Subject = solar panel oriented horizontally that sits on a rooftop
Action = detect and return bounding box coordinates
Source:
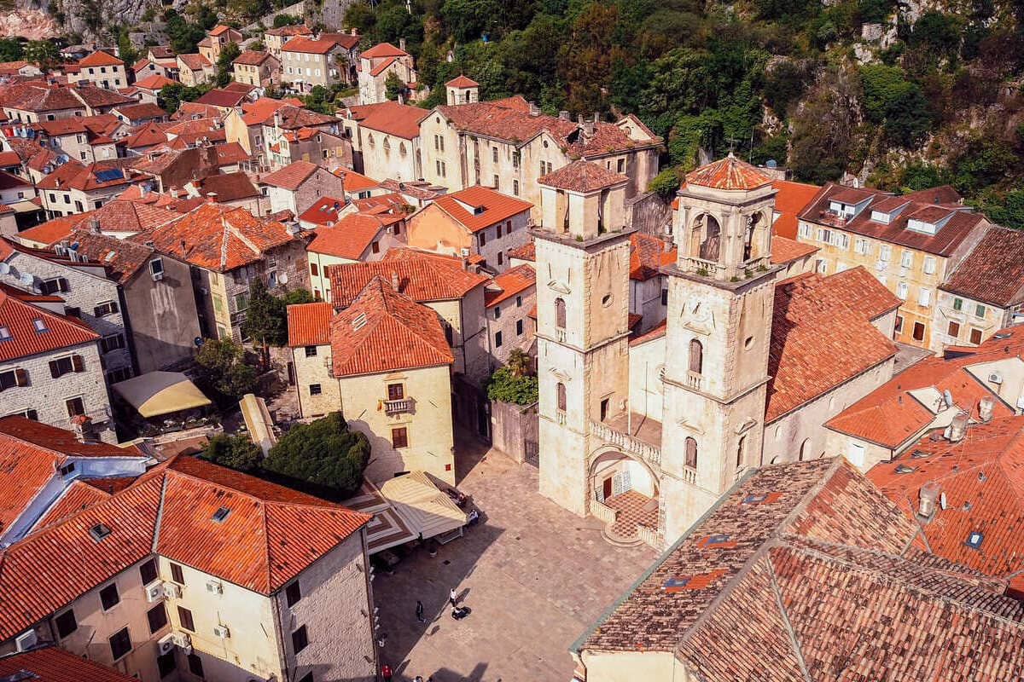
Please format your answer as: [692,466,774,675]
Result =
[89,165,129,183]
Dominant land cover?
buildings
